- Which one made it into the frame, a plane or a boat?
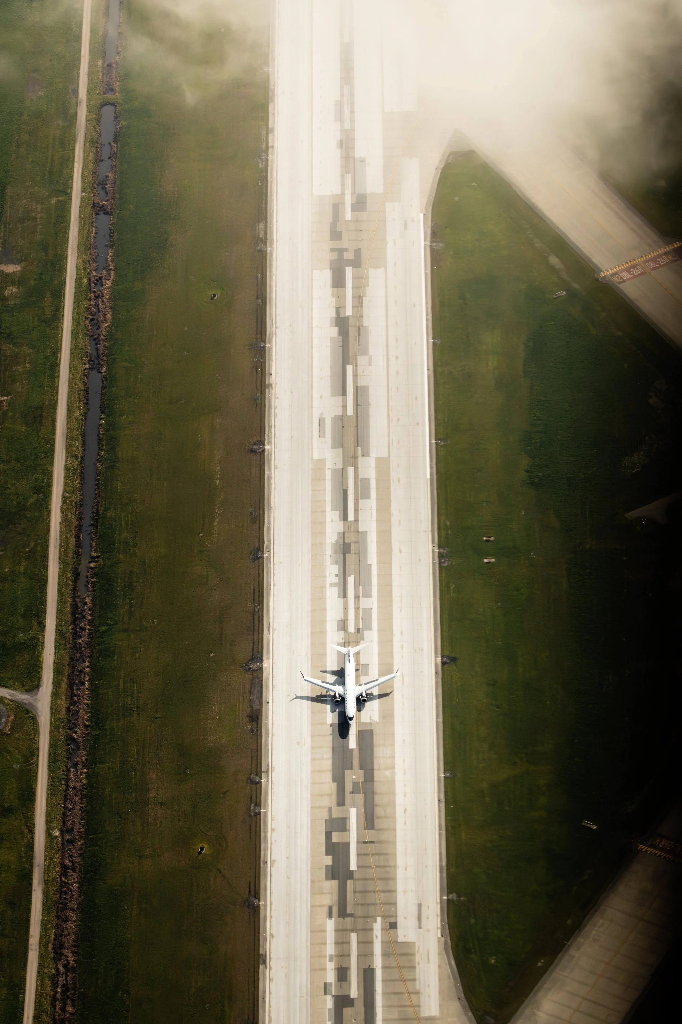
plane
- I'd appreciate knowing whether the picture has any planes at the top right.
No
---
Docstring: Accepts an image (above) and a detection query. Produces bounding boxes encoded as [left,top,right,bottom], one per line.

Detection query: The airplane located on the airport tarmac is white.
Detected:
[300,630,399,725]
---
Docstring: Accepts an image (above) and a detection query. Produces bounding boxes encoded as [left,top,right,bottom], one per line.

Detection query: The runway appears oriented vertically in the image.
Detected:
[265,0,442,1024]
